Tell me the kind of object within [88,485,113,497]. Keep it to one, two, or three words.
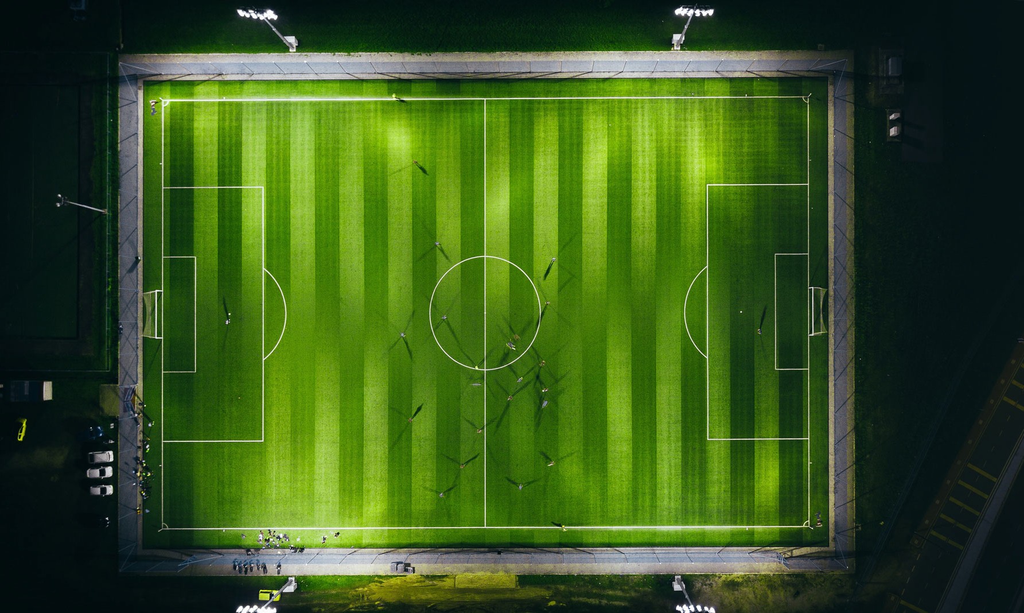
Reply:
vehicle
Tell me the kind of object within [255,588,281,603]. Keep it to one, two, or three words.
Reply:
vehicle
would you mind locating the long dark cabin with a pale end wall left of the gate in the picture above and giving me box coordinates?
[3,380,52,402]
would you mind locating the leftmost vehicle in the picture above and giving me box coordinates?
[9,417,26,443]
